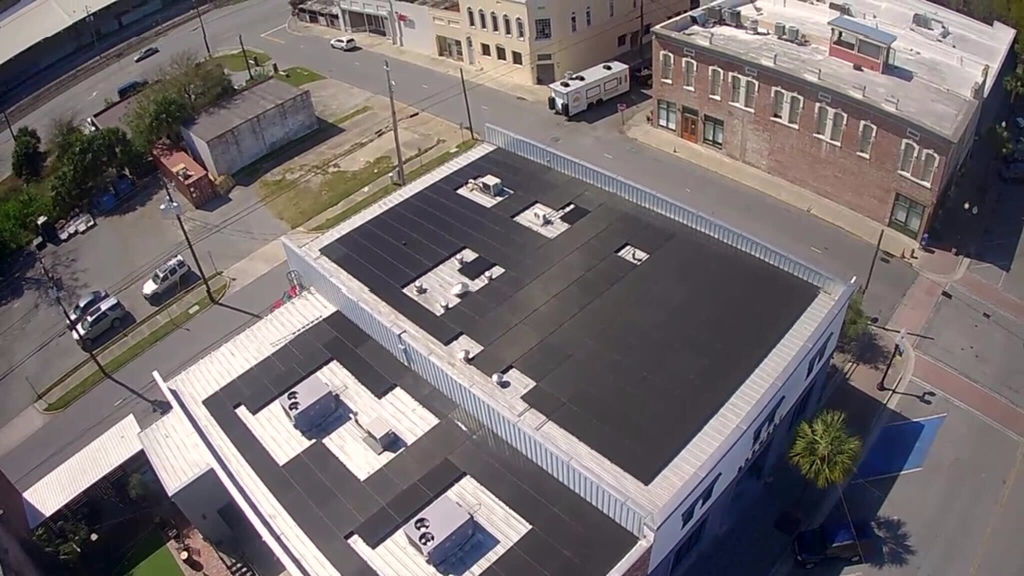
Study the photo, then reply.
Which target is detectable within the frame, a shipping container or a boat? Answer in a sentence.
The image shows a shipping container.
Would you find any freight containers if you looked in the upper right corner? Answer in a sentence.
No, I can find no freight container in the upper right corner.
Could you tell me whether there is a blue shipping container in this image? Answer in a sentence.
No, no blue shipping container is visible in the view.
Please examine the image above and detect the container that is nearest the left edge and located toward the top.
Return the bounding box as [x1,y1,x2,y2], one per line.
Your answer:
[152,134,215,206]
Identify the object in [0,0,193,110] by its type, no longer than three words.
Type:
warehouse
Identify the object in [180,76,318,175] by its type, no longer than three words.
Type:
building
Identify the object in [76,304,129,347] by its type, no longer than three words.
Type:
car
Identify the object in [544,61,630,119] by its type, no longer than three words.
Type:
trailer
